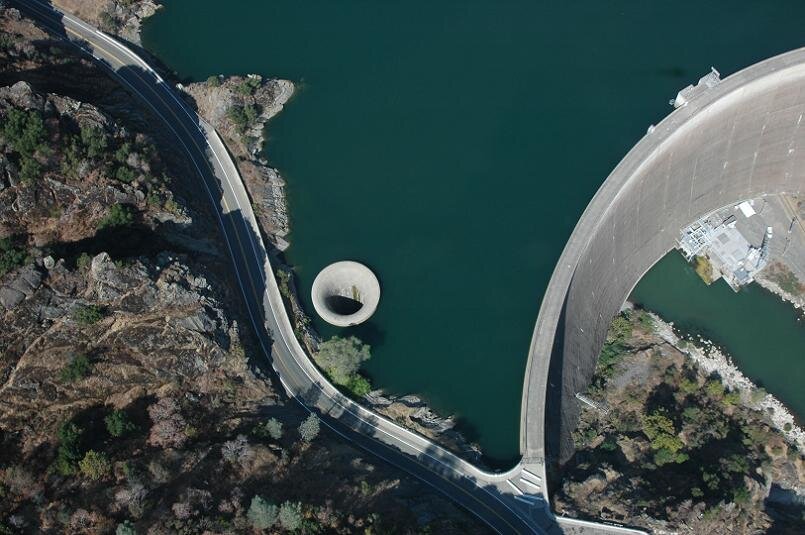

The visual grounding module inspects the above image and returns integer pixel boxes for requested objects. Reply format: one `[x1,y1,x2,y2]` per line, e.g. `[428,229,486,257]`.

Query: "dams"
[519,46,805,468]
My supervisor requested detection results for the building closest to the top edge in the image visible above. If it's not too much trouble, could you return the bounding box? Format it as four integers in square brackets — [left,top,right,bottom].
[697,58,728,97]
